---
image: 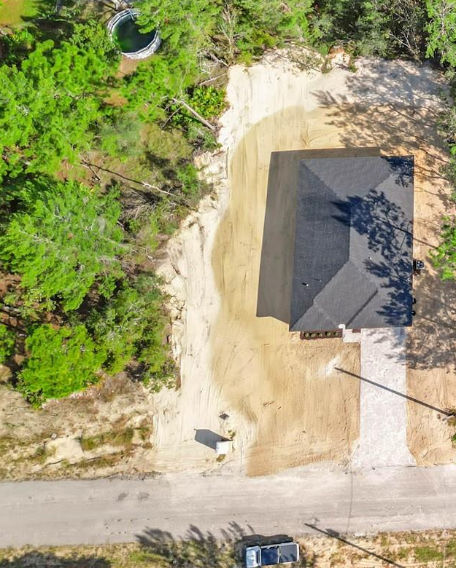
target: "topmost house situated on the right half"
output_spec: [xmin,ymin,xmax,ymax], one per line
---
[291,156,414,331]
